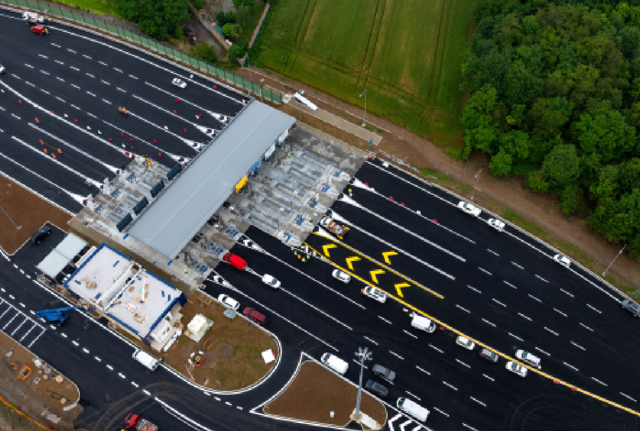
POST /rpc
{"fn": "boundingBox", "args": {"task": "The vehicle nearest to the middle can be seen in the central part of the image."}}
[313,209,351,240]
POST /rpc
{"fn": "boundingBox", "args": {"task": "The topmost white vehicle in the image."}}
[19,12,45,25]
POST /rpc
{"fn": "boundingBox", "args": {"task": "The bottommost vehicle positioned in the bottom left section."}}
[118,404,166,431]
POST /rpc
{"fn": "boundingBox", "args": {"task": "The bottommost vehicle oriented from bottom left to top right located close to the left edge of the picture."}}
[30,225,52,243]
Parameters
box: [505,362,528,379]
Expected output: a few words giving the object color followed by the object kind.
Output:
white car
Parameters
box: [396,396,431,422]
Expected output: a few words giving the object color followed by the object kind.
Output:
white vehicle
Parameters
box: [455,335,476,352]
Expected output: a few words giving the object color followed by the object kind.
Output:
white car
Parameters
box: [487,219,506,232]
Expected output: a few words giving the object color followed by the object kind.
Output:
white vehicle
